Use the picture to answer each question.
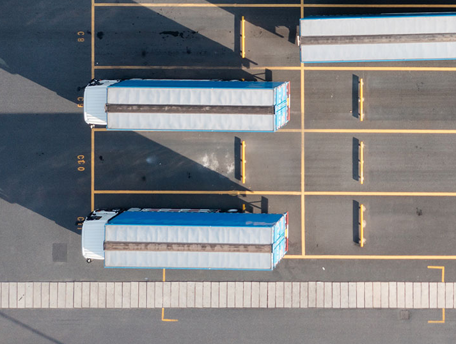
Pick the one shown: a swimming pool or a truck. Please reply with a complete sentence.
The one in the frame is a truck.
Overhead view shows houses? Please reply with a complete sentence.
No, no house can be seen from above.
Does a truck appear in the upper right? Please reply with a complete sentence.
Yes, looking in the upper right, one can make out a truck.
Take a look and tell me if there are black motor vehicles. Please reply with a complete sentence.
No, the photo shows no black motor vehicle.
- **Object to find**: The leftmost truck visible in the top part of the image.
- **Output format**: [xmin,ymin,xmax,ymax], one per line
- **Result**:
[76,78,292,132]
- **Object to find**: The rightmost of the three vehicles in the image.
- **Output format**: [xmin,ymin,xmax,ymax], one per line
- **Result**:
[300,13,456,62]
